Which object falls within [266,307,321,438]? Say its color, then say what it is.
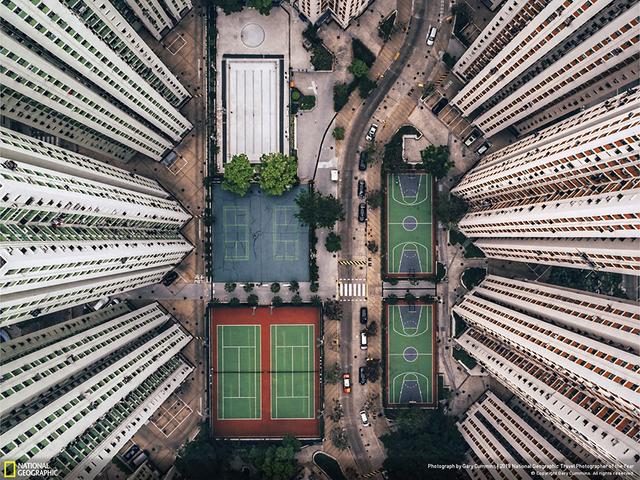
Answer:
green tennis court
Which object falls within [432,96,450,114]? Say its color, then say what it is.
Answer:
black car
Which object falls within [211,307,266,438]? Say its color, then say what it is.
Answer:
green tennis court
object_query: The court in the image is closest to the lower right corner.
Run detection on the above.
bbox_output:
[386,302,436,409]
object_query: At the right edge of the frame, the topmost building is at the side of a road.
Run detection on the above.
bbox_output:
[449,0,640,141]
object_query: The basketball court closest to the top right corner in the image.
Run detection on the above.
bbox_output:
[386,170,436,278]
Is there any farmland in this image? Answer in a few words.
No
